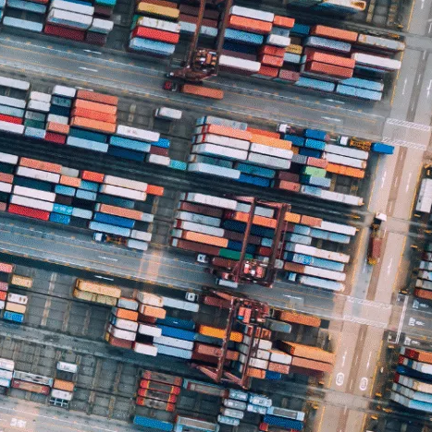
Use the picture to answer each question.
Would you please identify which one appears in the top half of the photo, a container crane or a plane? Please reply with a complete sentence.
Looking in the top half of the photo, you will find a container crane.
